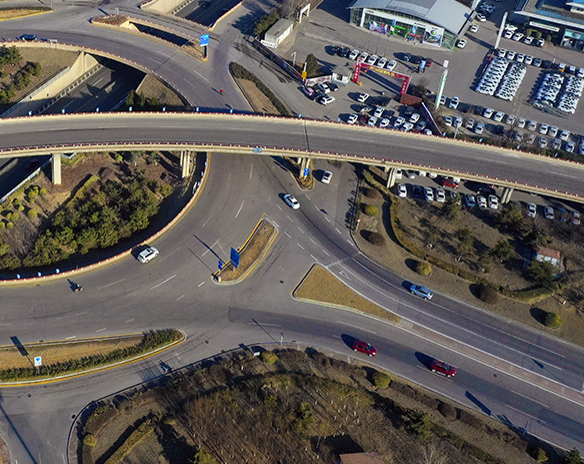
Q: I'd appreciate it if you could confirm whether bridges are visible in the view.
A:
Yes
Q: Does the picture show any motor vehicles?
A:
Yes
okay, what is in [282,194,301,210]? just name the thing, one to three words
car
